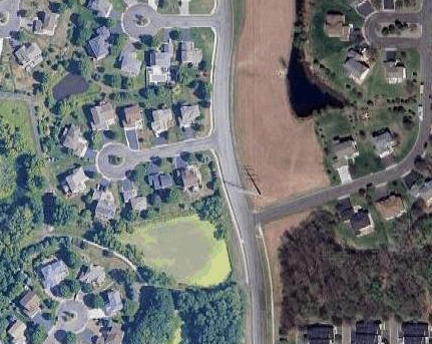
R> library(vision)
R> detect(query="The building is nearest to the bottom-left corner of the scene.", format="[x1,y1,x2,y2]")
[6,320,30,344]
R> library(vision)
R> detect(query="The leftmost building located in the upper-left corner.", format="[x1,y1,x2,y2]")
[18,42,44,69]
